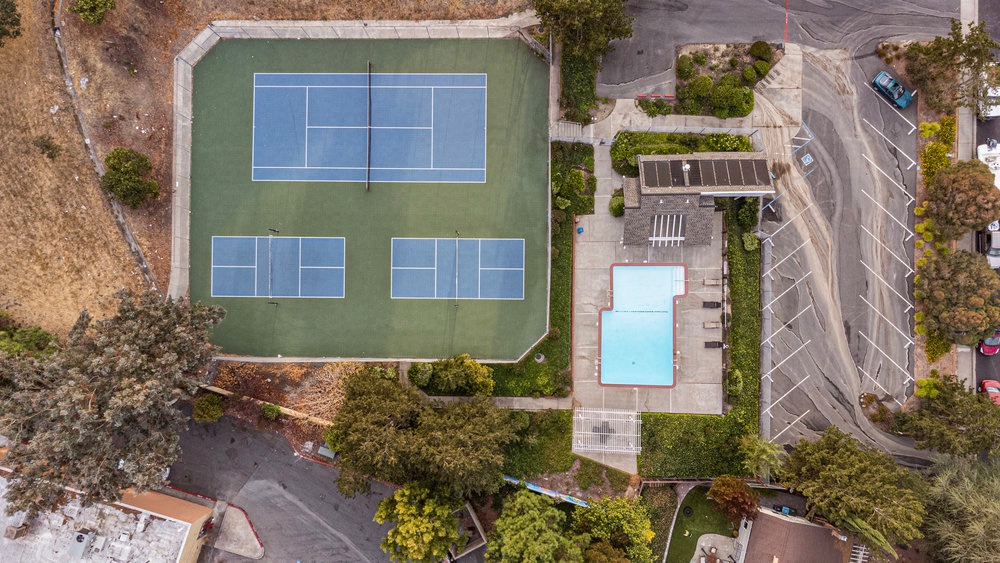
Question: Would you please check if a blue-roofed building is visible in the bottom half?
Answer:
No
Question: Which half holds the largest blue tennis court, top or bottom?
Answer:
top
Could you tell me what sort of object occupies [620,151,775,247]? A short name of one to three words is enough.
building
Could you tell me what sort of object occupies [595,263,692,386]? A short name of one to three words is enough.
swimming pool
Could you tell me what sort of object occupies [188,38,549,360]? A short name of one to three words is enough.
sports court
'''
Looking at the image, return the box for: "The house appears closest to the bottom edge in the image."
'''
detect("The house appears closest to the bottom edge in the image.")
[736,508,852,563]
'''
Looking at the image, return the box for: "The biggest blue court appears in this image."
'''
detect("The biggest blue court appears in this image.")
[252,72,487,183]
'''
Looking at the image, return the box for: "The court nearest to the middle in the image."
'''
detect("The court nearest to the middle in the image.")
[391,238,524,300]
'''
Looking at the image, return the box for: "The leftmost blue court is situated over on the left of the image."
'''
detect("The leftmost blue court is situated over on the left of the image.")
[211,236,345,299]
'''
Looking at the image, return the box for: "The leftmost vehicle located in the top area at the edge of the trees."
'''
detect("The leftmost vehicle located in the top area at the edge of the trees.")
[871,69,915,109]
